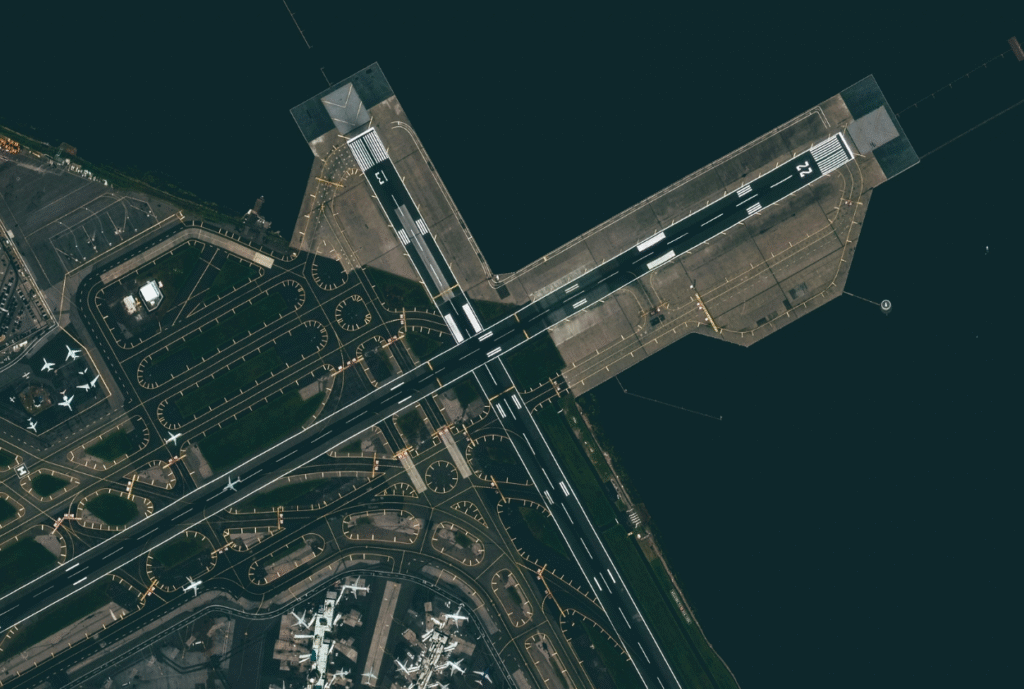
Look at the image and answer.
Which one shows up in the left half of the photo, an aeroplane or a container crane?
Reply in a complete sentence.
Visible in the left half of the photo is an aeroplane.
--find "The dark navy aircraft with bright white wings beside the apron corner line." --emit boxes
[75,370,99,396]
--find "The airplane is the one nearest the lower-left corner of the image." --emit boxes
[182,578,201,597]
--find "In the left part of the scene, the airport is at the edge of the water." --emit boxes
[0,135,737,689]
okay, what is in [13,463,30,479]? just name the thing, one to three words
helipad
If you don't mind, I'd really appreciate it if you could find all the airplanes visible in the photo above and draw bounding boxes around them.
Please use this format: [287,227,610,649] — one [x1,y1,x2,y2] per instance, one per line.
[334,668,351,680]
[41,358,56,374]
[344,577,370,601]
[65,345,81,362]
[394,658,410,675]
[361,666,378,685]
[163,433,181,447]
[26,417,38,432]
[472,666,492,687]
[182,578,201,597]
[438,683,454,689]
[442,607,469,629]
[288,609,307,628]
[223,477,242,492]
[448,660,467,678]
[57,390,74,412]
[75,370,99,396]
